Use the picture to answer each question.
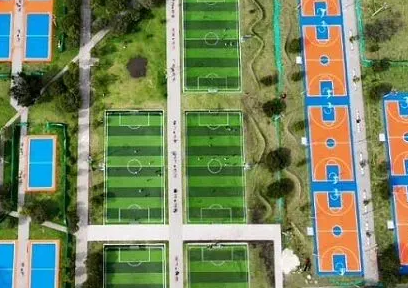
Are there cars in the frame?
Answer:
No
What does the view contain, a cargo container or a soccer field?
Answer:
soccer field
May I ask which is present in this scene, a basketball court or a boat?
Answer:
basketball court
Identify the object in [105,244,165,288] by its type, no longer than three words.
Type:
soccer field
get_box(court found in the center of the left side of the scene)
[23,135,59,191]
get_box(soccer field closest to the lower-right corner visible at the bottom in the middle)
[188,243,250,288]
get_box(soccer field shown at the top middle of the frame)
[183,0,241,92]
